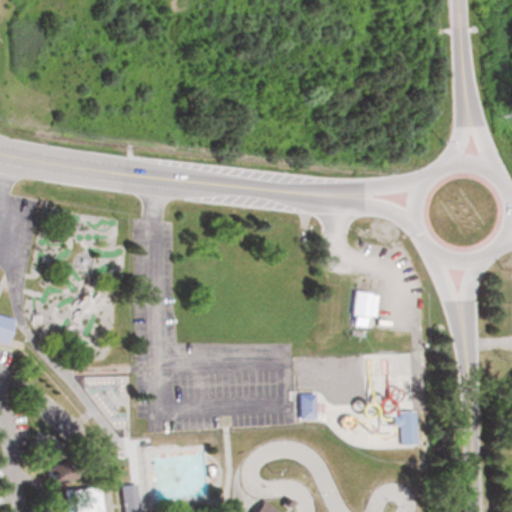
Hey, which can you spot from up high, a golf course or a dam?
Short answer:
golf course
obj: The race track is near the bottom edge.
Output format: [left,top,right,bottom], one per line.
[240,438,420,512]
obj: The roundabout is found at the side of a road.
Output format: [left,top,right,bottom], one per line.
[365,125,512,302]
